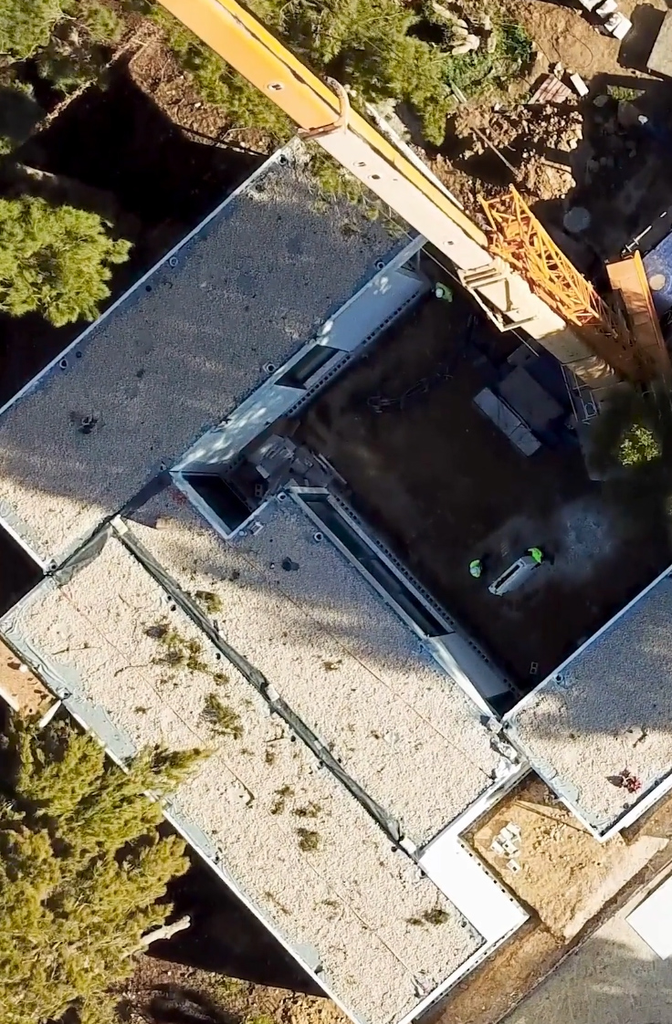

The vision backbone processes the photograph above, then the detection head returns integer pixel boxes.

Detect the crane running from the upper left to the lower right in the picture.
[155,0,672,523]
